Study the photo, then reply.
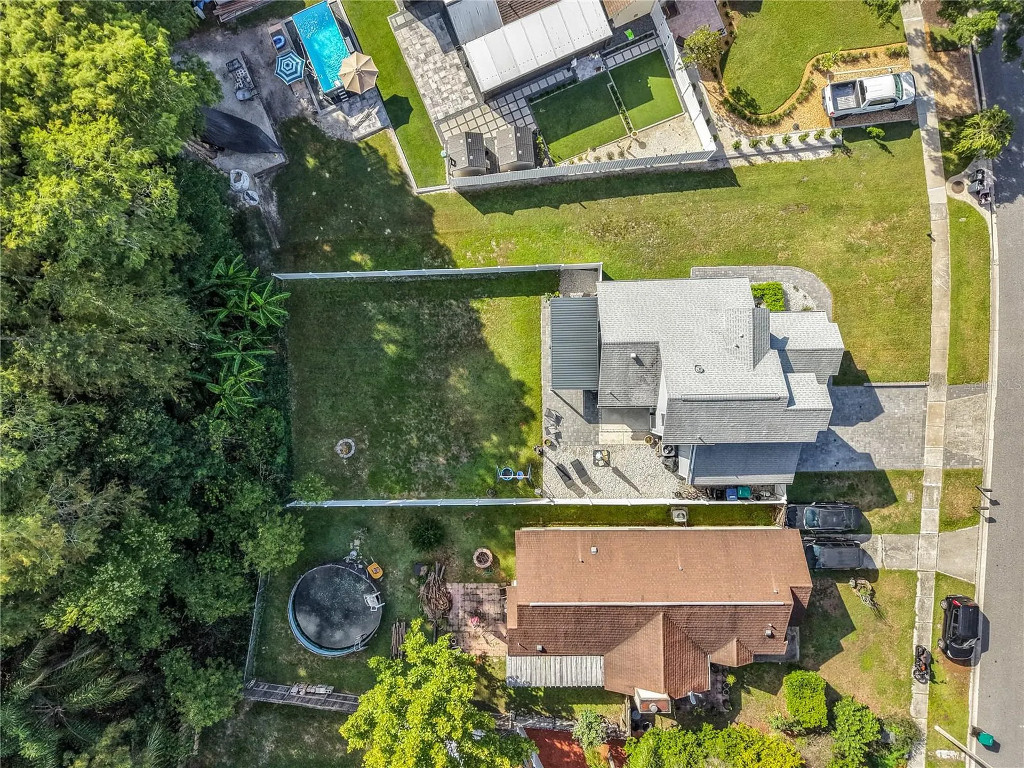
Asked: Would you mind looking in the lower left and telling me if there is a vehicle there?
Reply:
No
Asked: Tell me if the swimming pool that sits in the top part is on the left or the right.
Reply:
left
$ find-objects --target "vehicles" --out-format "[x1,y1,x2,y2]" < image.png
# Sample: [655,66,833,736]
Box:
[916,647,934,686]
[801,536,866,573]
[815,69,918,122]
[936,592,983,665]
[782,499,865,538]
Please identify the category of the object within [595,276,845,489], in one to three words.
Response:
house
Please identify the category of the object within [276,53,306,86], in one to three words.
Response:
umbrella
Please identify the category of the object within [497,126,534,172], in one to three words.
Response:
shed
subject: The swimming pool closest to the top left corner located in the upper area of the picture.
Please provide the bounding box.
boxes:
[292,0,350,104]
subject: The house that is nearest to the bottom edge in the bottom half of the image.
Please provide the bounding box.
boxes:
[507,525,813,715]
